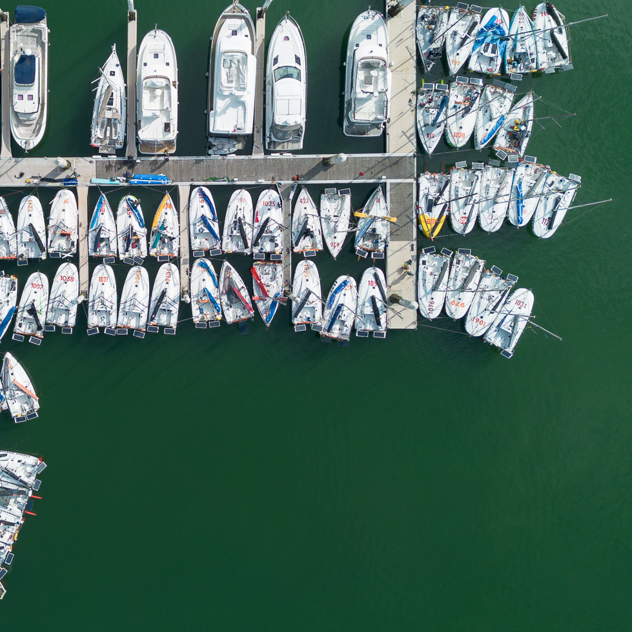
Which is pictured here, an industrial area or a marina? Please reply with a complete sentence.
This looks like a marina.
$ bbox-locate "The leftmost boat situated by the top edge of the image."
[10,7,51,154]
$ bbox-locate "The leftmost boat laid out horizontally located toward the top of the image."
[201,137,238,153]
